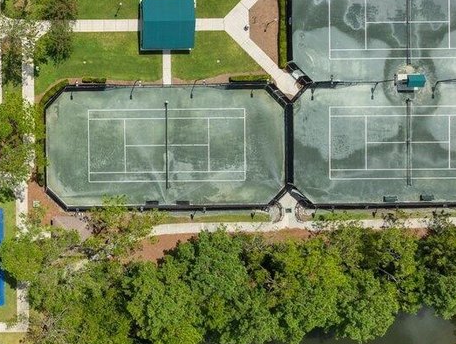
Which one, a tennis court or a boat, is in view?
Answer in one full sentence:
The image shows a tennis court.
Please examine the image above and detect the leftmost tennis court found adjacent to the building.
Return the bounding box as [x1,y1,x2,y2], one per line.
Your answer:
[44,83,286,206]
